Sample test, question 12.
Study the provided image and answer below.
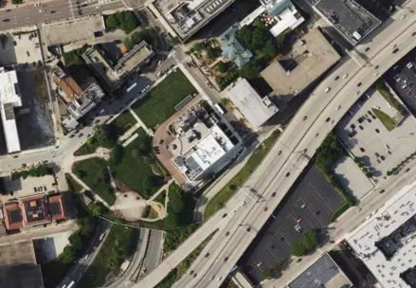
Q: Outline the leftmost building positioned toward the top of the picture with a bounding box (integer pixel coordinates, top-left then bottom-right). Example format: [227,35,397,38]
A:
[0,67,21,155]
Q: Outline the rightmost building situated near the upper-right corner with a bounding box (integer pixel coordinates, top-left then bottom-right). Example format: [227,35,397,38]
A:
[311,0,382,46]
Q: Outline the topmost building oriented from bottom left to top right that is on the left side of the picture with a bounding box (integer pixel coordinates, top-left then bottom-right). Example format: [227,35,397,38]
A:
[69,82,105,119]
